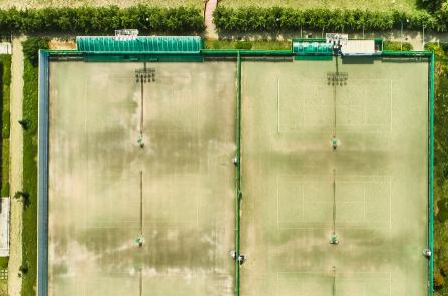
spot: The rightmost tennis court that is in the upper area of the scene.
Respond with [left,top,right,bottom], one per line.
[240,55,429,154]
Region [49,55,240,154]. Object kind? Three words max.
tennis court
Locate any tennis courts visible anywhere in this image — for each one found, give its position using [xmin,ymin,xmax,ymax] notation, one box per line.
[49,154,240,250]
[240,250,429,296]
[240,55,429,154]
[49,55,240,154]
[240,154,429,250]
[49,250,240,296]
